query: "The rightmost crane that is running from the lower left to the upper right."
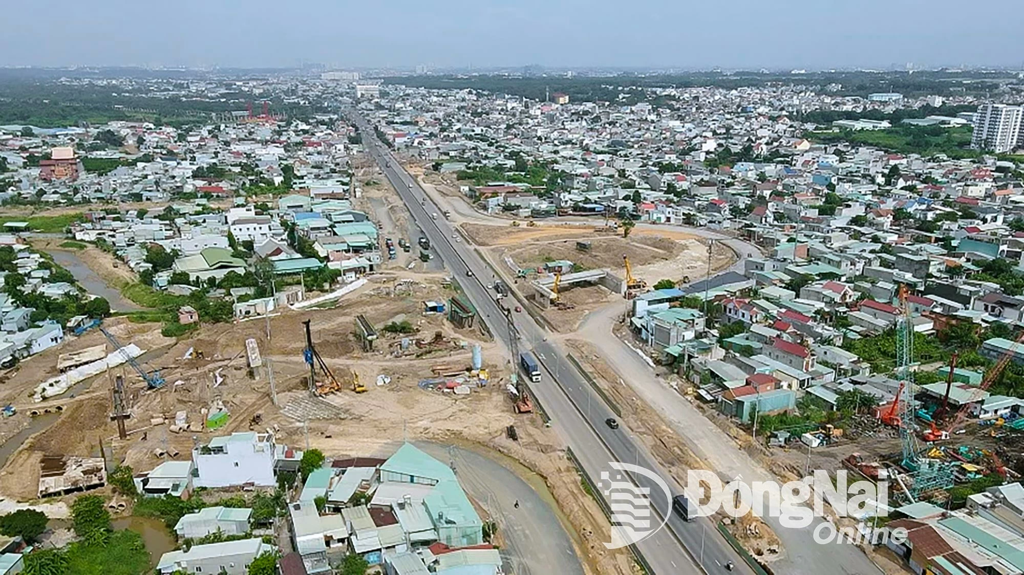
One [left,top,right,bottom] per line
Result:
[924,333,1024,447]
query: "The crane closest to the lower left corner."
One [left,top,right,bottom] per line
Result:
[99,326,169,389]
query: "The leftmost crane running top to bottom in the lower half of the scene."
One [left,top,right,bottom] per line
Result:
[497,299,541,415]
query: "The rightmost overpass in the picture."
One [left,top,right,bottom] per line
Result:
[530,266,629,310]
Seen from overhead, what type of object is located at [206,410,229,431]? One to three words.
shed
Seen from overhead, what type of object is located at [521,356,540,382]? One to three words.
vehicle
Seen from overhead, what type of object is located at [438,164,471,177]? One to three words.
house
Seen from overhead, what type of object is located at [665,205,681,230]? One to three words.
house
